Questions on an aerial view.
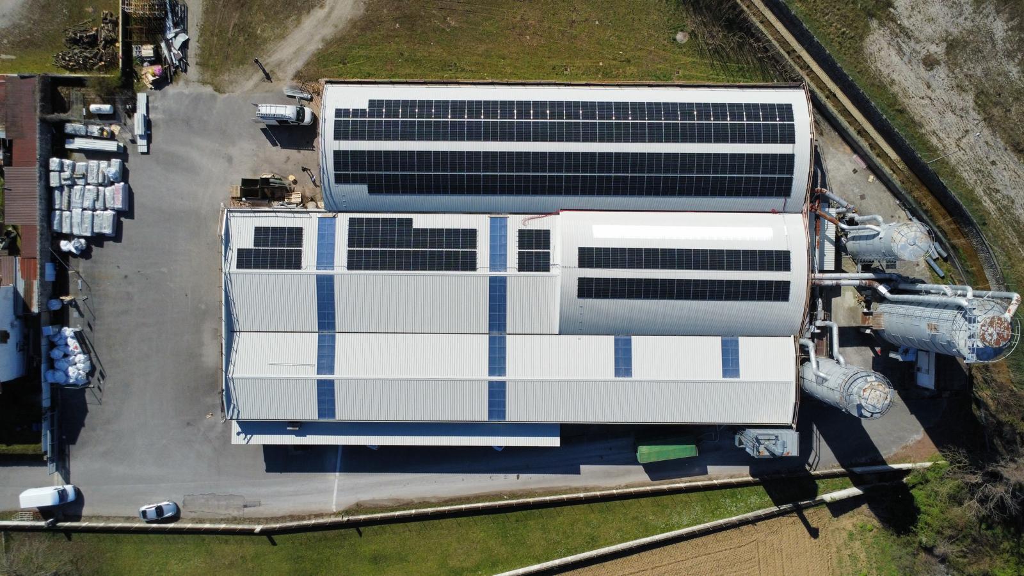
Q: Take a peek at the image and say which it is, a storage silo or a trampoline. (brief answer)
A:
storage silo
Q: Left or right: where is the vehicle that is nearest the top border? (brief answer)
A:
left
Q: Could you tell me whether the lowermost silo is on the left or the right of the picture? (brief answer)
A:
right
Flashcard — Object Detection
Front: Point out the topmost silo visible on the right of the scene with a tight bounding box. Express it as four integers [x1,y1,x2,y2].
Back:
[848,219,941,265]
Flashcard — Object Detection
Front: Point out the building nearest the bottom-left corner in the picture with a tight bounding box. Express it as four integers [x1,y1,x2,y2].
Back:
[0,286,50,381]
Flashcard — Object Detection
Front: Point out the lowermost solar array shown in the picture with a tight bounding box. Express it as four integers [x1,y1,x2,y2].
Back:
[578,279,792,301]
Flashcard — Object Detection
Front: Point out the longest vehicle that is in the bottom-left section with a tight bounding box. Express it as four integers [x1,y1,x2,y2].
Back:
[20,484,82,510]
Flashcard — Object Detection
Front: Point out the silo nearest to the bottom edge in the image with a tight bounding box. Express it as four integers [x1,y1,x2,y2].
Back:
[804,360,897,421]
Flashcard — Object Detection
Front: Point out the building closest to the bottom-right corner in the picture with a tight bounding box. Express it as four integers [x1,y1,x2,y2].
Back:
[904,350,935,388]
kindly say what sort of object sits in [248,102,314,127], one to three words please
vehicle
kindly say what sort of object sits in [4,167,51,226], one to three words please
shed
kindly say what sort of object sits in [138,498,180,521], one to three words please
car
